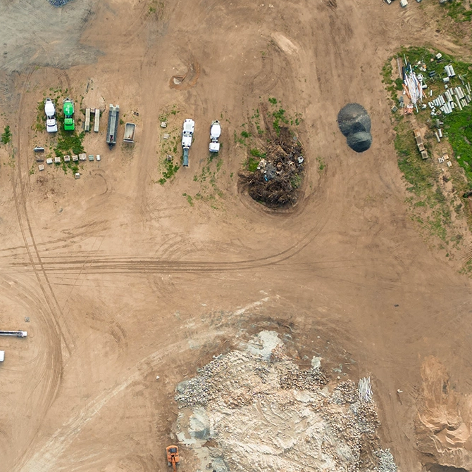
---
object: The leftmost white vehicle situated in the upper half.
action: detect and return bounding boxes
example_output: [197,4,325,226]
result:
[44,94,57,133]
